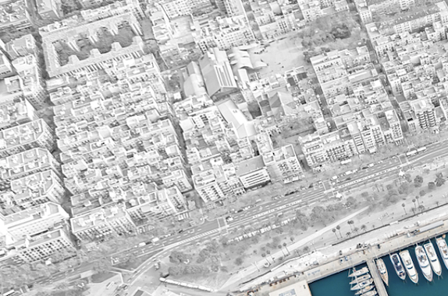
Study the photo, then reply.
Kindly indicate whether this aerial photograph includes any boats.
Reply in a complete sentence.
Yes, looking at the shot, I can spot a boat.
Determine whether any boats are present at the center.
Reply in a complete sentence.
No, at the center there is no boat.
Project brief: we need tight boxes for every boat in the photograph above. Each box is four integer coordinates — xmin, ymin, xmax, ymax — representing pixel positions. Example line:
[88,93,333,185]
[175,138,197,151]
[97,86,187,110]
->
[355,279,374,296]
[415,237,433,286]
[435,228,448,268]
[389,244,404,279]
[356,286,377,296]
[350,273,373,291]
[348,264,368,278]
[376,257,388,286]
[400,237,418,289]
[349,268,371,285]
[424,231,441,274]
